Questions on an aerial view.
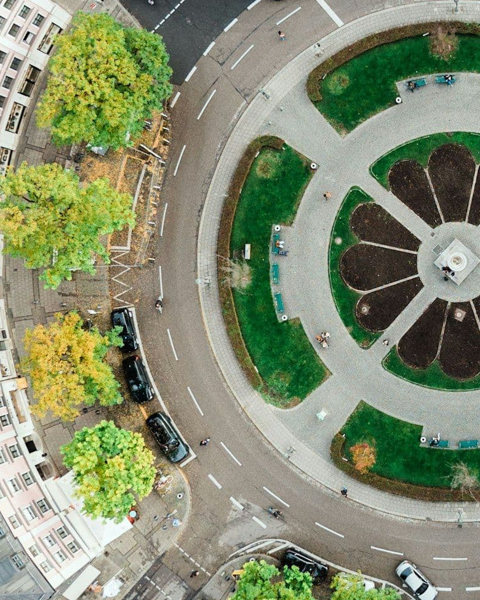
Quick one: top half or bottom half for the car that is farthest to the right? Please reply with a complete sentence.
The car that is farthest to the right is in the bottom half of the image.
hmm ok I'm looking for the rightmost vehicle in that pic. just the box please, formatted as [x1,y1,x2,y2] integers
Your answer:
[392,556,442,600]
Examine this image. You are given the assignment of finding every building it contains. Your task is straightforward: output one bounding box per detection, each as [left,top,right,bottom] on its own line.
[0,0,74,189]
[0,377,132,600]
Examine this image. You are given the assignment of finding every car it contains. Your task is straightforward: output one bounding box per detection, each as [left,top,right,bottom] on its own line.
[122,353,157,405]
[278,546,336,586]
[147,407,192,466]
[111,306,142,353]
[392,556,442,600]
